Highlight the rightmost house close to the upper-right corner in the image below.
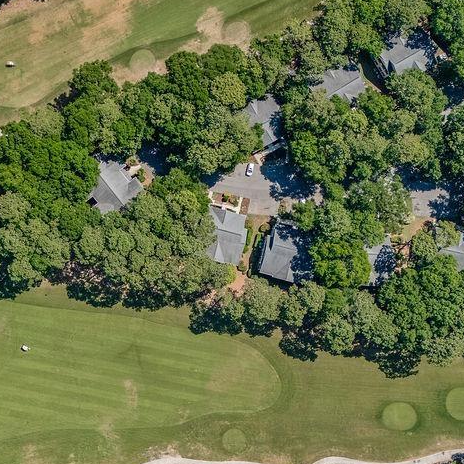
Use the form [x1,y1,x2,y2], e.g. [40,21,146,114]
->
[367,25,437,80]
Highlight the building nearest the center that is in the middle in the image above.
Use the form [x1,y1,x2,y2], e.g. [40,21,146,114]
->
[205,202,249,265]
